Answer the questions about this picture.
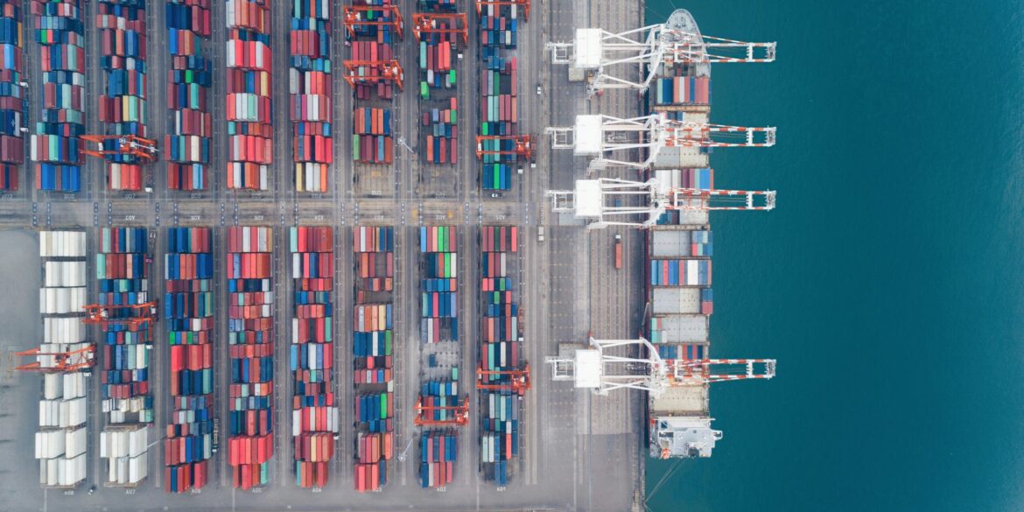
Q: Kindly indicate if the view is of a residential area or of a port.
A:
port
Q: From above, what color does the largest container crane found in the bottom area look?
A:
white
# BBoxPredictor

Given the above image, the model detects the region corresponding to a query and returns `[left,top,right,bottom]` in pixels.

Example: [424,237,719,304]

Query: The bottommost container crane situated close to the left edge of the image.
[14,340,97,372]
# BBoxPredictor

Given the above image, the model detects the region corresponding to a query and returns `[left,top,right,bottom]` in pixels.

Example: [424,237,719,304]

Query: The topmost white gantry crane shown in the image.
[546,27,775,101]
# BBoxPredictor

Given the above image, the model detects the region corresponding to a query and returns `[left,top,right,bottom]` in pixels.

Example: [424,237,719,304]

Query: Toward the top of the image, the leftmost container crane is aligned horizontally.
[80,132,158,165]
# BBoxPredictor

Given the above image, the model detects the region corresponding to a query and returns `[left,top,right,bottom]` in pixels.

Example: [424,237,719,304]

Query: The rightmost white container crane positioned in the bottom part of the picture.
[546,330,775,395]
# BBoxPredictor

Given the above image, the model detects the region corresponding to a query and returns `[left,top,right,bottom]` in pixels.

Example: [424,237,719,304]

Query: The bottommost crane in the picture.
[411,391,469,425]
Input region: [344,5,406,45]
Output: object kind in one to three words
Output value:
container crane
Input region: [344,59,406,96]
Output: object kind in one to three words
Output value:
container crane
